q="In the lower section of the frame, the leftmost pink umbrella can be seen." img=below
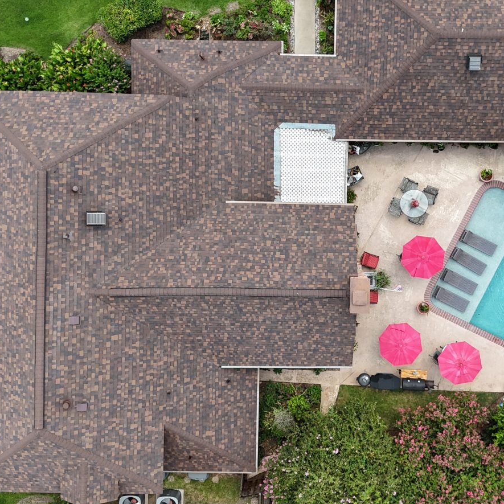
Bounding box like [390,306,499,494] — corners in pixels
[377,320,421,364]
